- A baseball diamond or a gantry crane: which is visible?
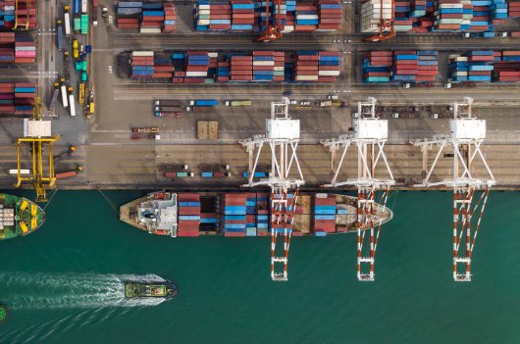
gantry crane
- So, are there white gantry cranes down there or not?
Yes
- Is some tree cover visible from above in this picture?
No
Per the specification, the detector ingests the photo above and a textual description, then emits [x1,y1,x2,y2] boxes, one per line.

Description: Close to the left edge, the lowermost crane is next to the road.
[5,95,60,212]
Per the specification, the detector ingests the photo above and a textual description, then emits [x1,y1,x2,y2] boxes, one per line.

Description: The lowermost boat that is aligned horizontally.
[124,282,178,299]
